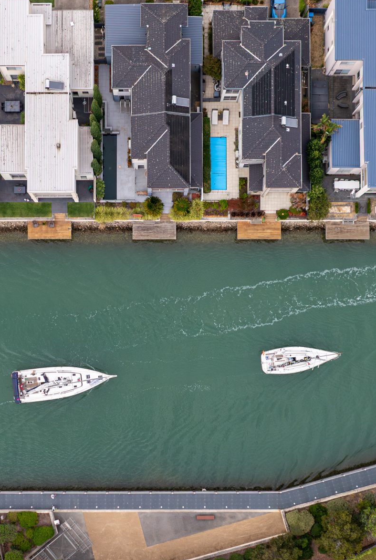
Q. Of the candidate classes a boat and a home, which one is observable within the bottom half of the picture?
boat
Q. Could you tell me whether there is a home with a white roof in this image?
Yes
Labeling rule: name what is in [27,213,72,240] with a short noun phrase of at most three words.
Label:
pier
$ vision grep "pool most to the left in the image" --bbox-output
[100,131,119,202]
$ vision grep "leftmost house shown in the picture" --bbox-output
[0,0,93,204]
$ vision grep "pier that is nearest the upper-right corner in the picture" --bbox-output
[325,215,370,240]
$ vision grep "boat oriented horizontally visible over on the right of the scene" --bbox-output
[259,344,341,374]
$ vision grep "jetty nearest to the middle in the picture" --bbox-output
[132,214,177,240]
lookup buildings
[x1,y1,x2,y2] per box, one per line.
[105,2,203,198]
[0,0,93,204]
[212,6,312,198]
[327,0,376,198]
